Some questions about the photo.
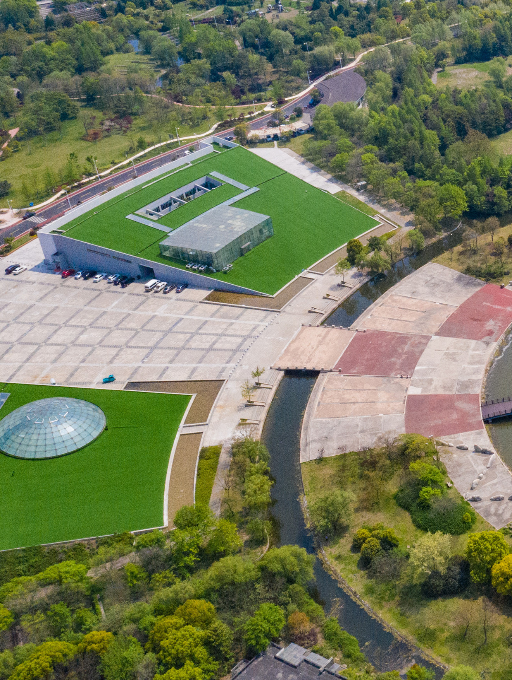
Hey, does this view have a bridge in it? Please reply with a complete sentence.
Yes, there's a bridge down there.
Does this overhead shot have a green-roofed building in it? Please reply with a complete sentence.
Yes, a green-roofed building is visible in the scene.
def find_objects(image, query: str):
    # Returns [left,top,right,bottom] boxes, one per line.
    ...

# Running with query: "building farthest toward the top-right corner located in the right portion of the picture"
[314,69,368,109]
